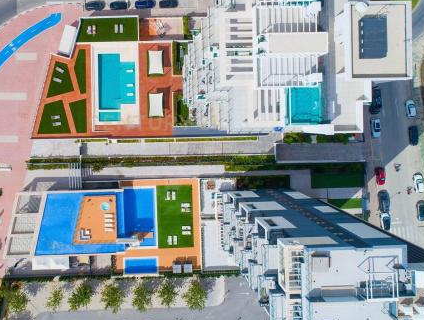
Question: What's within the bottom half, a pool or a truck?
pool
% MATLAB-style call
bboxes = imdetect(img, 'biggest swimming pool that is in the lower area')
[36,192,125,254]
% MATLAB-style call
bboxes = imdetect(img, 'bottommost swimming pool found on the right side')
[285,86,321,124]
